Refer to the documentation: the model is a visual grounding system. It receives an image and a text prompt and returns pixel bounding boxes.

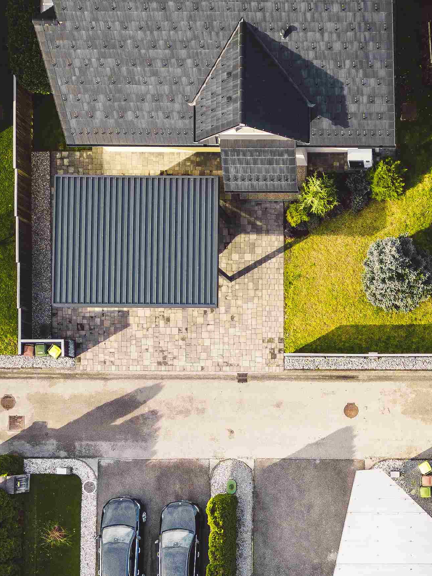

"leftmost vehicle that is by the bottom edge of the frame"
[95,496,149,576]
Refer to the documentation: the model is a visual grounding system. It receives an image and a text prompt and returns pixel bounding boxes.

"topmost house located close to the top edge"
[13,0,397,203]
